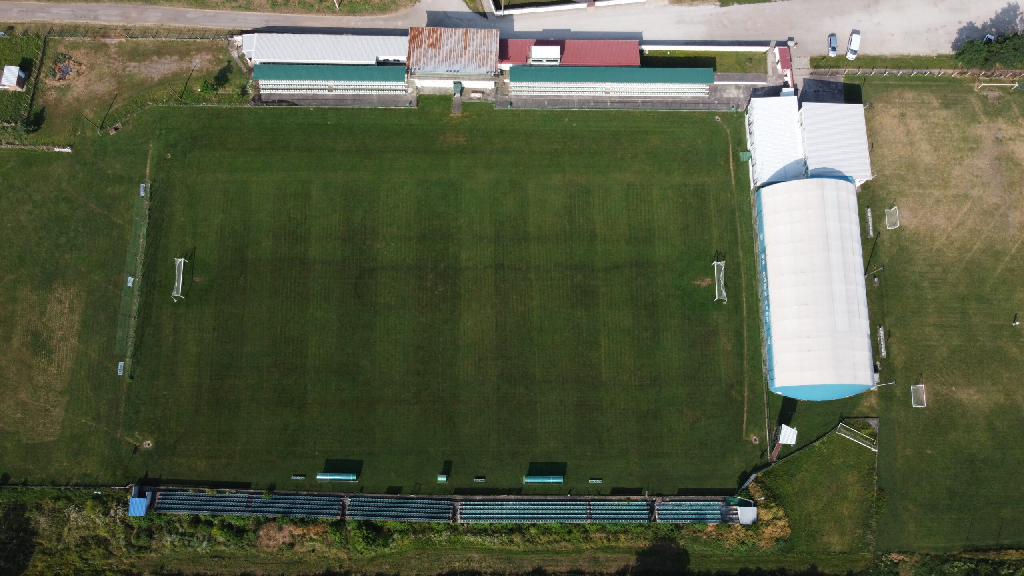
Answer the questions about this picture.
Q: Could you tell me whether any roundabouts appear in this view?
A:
No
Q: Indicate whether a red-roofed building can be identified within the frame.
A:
Yes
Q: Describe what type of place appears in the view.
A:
sports ground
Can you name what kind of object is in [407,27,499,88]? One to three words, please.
building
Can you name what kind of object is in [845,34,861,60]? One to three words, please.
car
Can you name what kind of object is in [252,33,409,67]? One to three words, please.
building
